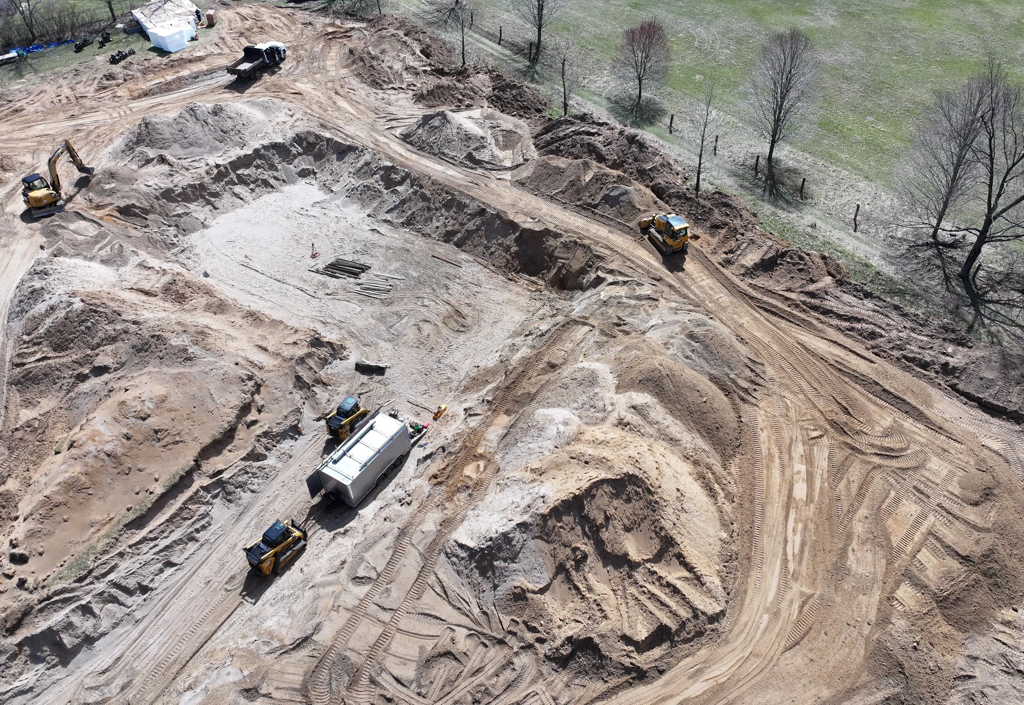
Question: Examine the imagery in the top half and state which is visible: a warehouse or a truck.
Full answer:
You can see a truck in the top half.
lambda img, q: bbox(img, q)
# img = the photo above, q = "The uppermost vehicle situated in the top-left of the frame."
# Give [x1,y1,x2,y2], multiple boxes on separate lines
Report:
[230,47,286,83]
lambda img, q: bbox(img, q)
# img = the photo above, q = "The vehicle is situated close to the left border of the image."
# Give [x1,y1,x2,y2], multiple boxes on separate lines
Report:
[19,137,96,215]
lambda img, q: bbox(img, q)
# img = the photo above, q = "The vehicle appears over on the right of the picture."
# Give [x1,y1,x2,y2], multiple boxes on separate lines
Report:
[634,207,686,252]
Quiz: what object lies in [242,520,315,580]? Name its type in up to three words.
work vehicle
